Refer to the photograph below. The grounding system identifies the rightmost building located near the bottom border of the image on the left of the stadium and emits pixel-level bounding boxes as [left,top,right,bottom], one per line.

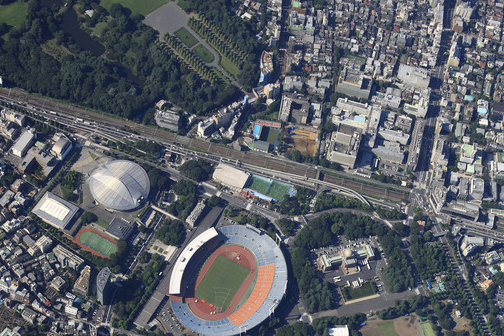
[137,289,165,320]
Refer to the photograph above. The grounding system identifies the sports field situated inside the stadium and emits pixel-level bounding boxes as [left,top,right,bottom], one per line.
[194,254,251,310]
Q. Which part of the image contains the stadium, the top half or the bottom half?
bottom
